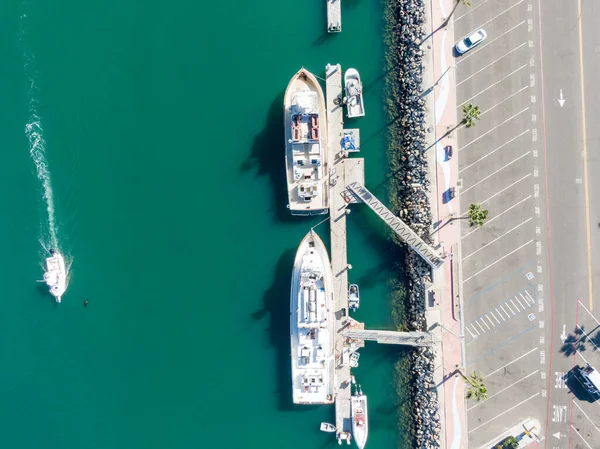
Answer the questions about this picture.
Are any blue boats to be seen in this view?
No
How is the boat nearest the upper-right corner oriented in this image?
vertically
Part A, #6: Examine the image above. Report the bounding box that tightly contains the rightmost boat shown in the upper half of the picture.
[341,67,365,120]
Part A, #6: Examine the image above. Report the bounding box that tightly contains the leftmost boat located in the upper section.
[284,64,331,217]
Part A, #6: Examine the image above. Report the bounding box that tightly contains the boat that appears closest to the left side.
[36,250,67,304]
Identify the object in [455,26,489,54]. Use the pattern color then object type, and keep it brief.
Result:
white car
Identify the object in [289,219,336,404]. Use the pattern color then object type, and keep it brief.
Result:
white boat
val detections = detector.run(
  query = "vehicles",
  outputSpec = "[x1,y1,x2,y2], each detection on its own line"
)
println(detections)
[580,362,600,393]
[455,26,489,54]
